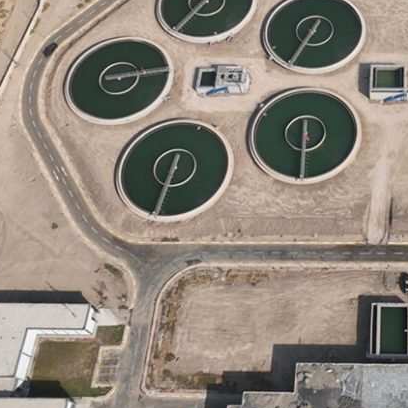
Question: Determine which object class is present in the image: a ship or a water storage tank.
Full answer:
Looking from above, you can make out a water storage tank.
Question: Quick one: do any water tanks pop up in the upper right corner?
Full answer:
Yes, looking in the upper right corner, one can make out a water tank.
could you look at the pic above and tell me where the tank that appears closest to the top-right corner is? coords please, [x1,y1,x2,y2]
[265,0,365,75]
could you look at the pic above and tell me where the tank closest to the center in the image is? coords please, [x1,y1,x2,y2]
[118,118,233,220]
